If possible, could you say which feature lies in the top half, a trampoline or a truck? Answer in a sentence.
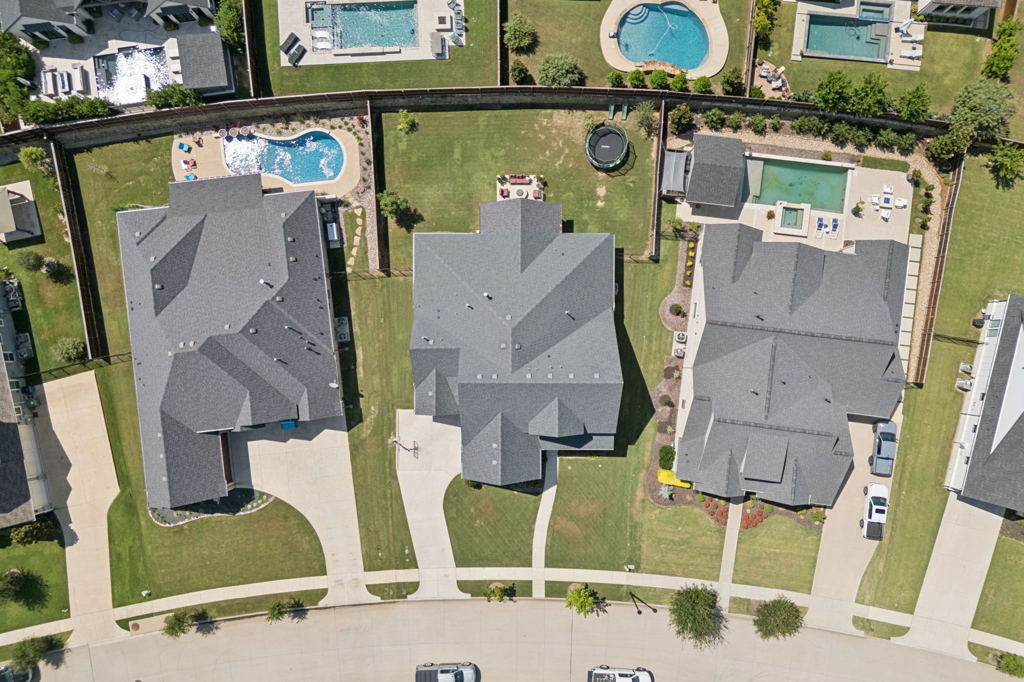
Looking in the top half, you will find a trampoline.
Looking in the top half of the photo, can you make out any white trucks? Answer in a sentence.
No, looking in the top half of the photo, there is no white truck.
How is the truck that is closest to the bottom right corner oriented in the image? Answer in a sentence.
In this picture, the truck that is closest to the bottom right corner is oriented up and down.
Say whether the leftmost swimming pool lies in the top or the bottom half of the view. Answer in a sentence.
The leftmost swimming pool is in the top half of the image.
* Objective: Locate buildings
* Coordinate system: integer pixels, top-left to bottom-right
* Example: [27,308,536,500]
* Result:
[673,223,910,506]
[0,281,56,528]
[916,0,1001,29]
[682,132,743,208]
[0,0,217,45]
[0,187,32,235]
[410,198,623,486]
[176,31,235,95]
[938,294,1024,512]
[115,172,343,509]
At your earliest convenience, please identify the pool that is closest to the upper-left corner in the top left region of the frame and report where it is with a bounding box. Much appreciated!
[92,44,169,105]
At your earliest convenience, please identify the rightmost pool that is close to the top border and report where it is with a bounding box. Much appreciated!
[802,0,895,63]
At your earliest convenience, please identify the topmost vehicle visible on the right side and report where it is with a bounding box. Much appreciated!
[867,418,898,479]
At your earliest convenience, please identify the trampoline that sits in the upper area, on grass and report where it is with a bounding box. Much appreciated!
[585,120,628,164]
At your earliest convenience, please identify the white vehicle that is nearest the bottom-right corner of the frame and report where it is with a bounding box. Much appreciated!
[859,481,891,543]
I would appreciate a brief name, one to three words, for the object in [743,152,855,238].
swimming pool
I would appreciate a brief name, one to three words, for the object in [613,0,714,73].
swimming pool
